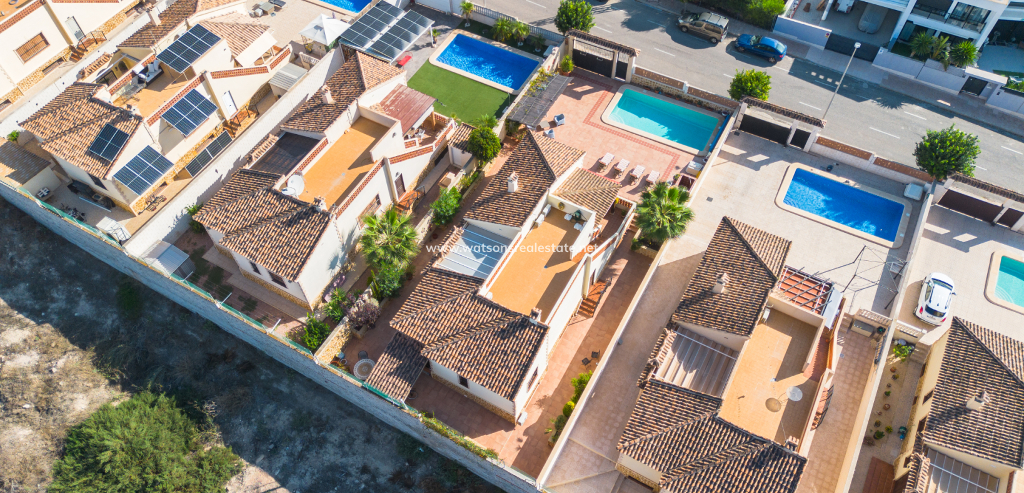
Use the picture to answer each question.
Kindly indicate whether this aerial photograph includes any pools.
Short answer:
Yes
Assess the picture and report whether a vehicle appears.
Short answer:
Yes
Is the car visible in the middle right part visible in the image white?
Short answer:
Yes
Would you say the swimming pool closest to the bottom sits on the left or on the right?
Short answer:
right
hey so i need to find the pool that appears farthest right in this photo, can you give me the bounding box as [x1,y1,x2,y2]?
[984,249,1024,313]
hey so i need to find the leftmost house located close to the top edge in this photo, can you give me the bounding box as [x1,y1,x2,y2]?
[0,0,150,114]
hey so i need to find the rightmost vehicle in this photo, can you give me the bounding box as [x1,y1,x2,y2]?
[919,268,964,330]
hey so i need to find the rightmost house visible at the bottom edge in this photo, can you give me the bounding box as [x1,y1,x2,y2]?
[894,315,1024,493]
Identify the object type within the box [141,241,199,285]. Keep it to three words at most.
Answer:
shed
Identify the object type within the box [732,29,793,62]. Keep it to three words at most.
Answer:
car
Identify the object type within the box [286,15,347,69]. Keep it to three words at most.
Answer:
gazebo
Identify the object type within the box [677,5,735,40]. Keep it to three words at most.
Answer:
car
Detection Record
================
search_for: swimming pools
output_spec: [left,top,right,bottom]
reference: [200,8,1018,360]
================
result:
[773,161,913,249]
[309,0,375,18]
[600,83,726,158]
[427,29,540,93]
[984,249,1024,313]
